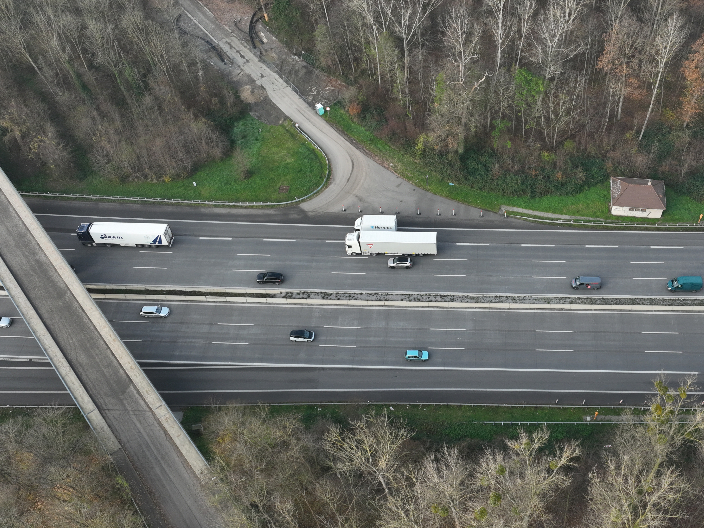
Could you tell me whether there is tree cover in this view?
Yes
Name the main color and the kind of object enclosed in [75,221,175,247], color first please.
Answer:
white truck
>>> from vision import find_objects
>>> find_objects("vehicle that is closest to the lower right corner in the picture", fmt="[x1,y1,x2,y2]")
[666,274,704,292]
